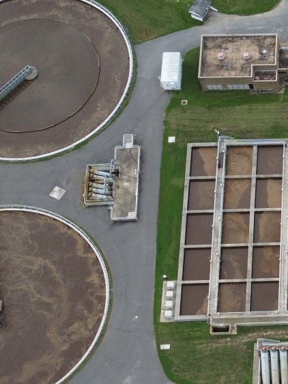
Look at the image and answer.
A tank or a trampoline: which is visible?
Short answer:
tank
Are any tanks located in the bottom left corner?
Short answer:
Yes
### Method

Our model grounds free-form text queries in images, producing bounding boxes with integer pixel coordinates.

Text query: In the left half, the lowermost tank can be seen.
[0,203,112,384]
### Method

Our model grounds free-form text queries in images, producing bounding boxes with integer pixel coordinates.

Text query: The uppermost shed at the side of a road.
[189,0,217,22]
